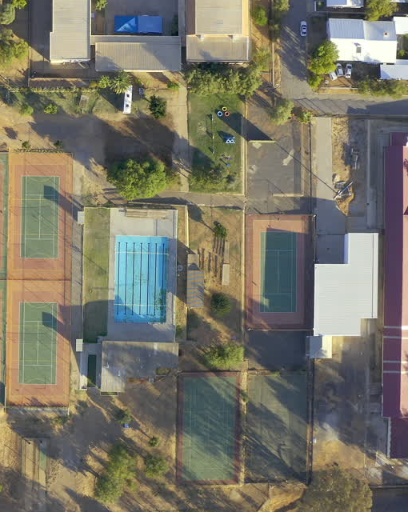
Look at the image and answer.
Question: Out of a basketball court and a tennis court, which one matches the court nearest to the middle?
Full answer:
Specifically, the court nearest to the middle is a tennis court.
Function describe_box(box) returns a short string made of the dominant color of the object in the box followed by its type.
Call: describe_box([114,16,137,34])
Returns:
blue tent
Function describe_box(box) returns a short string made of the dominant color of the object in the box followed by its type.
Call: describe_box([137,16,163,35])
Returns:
blue tent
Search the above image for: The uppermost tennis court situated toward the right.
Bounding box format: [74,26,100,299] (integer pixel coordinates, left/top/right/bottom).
[247,215,313,329]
